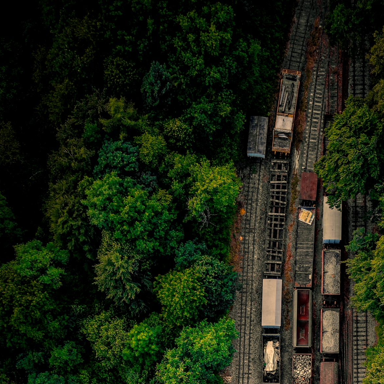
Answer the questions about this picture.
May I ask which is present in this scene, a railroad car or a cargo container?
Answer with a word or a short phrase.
railroad car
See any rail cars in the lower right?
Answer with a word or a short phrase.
Yes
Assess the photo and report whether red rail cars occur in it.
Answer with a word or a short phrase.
Yes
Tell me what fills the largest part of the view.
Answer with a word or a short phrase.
trees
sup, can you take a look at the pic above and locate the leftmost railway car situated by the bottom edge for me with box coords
[262,333,281,384]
